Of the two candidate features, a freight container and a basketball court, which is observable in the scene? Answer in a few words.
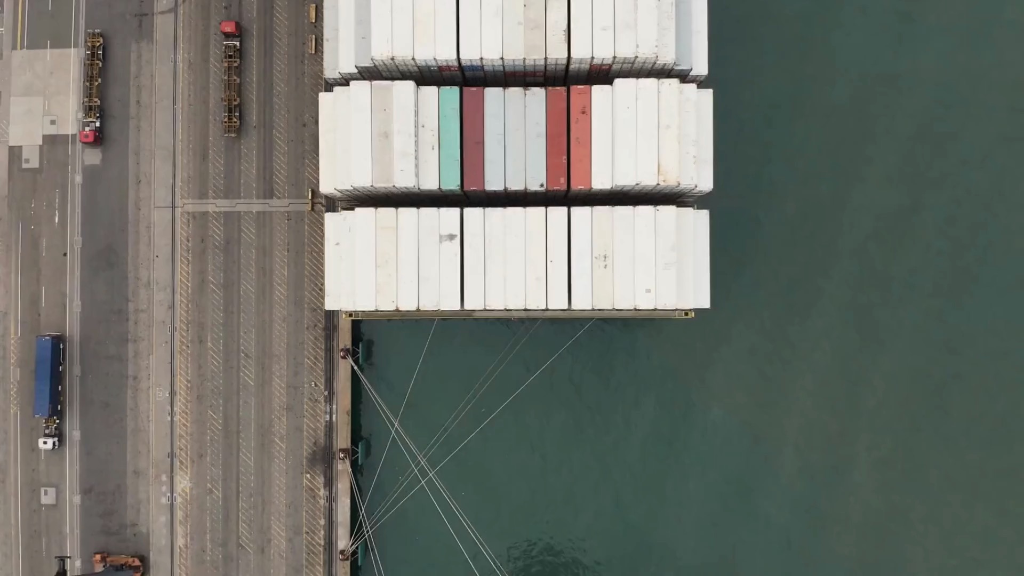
freight container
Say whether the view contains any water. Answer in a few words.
Yes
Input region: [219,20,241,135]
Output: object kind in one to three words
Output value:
truck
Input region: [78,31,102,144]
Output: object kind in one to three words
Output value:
truck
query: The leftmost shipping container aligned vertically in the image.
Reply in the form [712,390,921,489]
[34,335,60,417]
